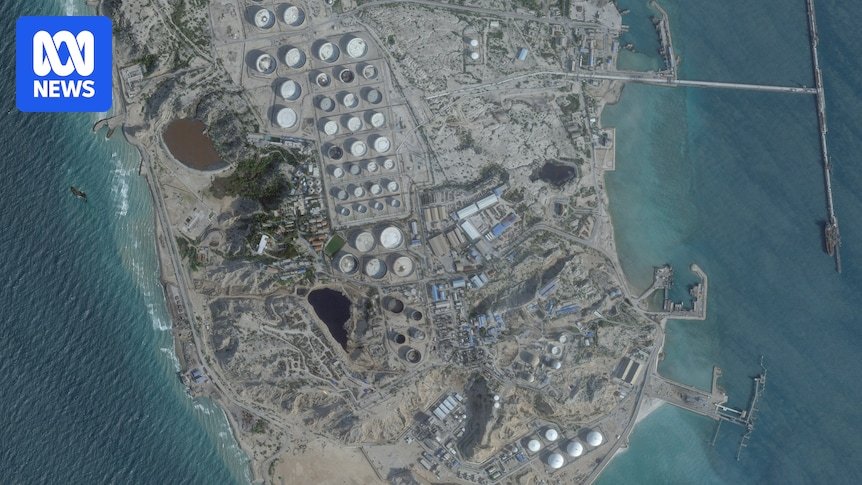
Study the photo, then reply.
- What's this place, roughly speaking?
port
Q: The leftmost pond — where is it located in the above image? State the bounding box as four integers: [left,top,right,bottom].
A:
[163,118,222,171]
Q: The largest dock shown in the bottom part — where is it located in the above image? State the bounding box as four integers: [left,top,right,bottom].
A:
[644,367,727,420]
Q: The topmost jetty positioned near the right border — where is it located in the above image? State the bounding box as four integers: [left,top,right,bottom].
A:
[806,0,840,273]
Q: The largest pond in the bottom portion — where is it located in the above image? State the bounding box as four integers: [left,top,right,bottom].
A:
[308,287,352,350]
